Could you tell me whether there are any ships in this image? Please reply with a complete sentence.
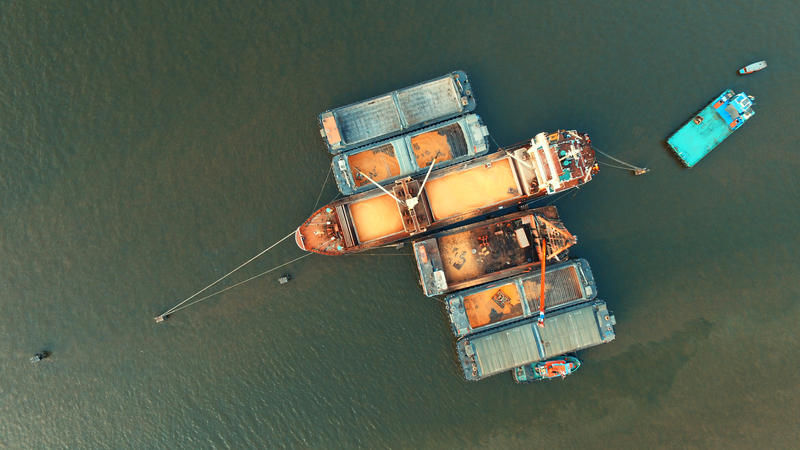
Yes, there is a ship in the image.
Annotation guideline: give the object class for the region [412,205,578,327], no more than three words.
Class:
ship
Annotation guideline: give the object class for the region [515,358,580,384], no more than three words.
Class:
boat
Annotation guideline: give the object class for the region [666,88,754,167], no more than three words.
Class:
ship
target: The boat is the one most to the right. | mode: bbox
[735,61,769,74]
